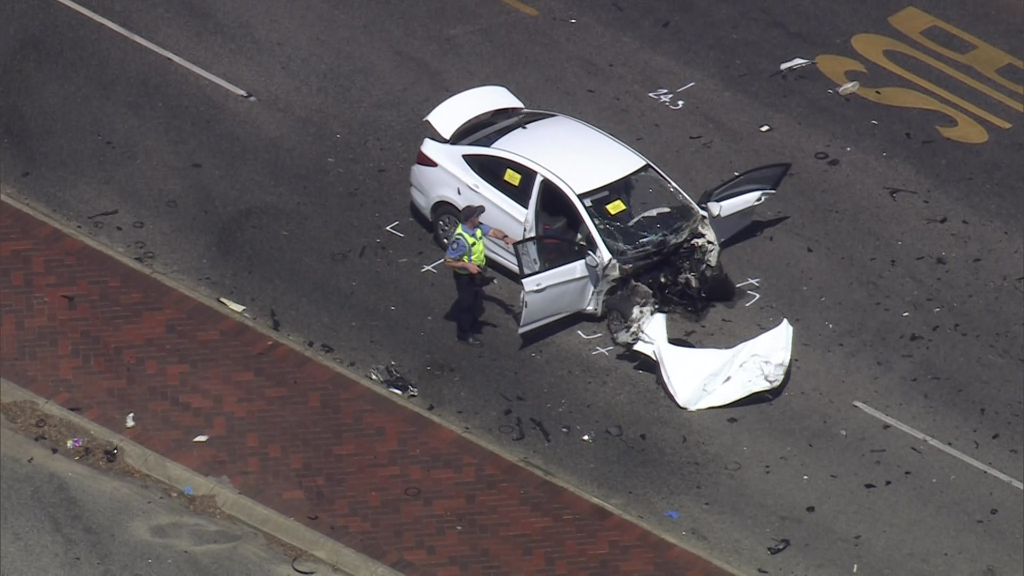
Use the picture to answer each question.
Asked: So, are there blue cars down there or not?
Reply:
No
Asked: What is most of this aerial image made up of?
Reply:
paved ground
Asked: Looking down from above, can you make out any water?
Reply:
No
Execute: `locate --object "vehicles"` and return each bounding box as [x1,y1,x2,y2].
[410,84,789,351]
